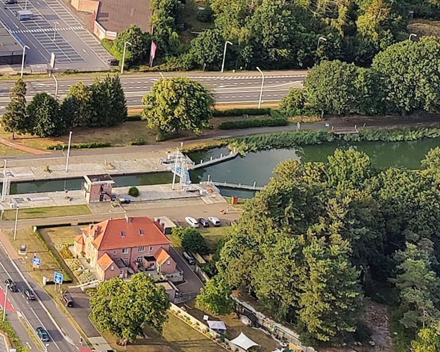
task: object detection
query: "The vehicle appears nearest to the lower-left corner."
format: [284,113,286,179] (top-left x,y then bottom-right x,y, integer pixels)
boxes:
[35,327,50,339]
